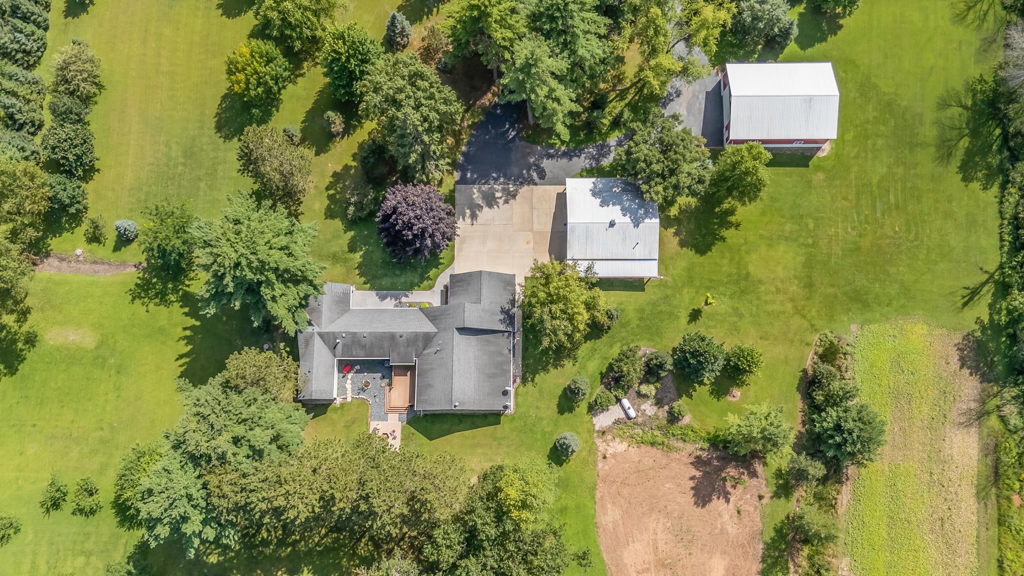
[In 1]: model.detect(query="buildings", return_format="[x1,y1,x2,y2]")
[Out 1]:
[565,179,659,280]
[719,63,839,148]
[295,271,516,414]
